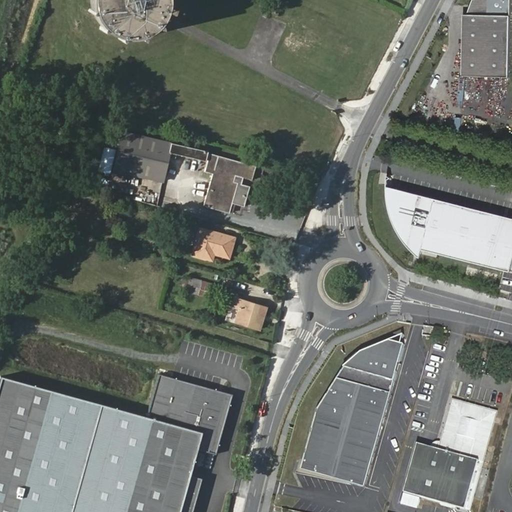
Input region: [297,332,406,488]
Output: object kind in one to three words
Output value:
building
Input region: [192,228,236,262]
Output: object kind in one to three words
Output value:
house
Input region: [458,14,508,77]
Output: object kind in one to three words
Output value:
building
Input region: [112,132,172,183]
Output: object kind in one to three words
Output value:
barn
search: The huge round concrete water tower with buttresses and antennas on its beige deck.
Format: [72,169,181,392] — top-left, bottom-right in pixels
[87,0,178,45]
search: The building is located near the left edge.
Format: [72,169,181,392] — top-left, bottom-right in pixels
[0,375,202,512]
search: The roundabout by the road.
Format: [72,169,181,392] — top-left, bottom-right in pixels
[300,241,386,327]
